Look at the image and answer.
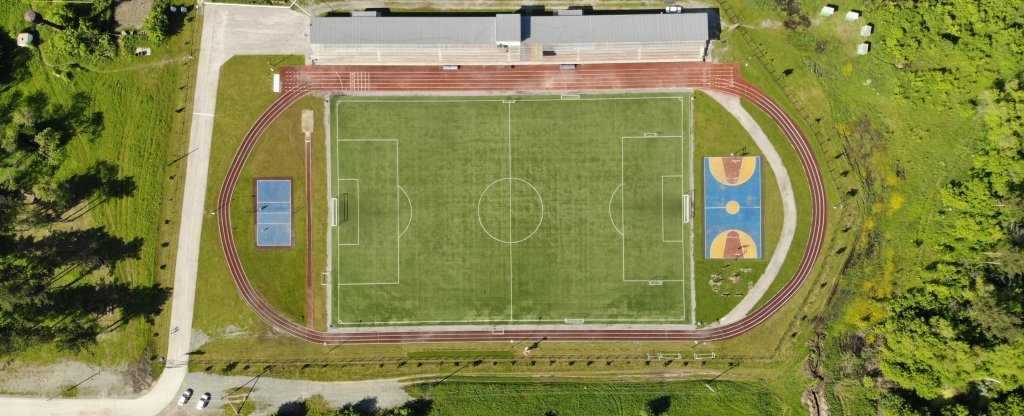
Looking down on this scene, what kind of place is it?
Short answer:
sports ground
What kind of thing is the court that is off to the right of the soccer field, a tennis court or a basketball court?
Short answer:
basketball court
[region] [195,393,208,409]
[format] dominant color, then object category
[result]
white vehicle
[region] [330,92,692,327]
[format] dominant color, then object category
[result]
green soccer field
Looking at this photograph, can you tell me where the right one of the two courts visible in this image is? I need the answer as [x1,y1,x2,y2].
[702,155,764,261]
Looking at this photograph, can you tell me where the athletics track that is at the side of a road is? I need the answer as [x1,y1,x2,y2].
[217,62,827,345]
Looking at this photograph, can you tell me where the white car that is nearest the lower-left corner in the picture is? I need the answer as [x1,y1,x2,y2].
[176,390,190,406]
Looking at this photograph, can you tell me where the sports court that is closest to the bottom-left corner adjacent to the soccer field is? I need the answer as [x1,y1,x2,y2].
[254,178,295,250]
